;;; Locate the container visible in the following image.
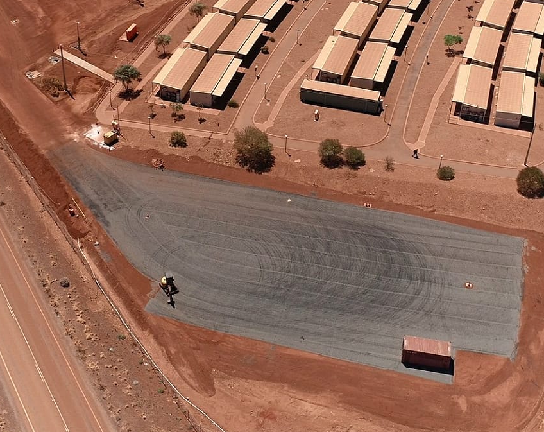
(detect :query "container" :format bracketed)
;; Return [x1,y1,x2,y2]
[402,336,451,369]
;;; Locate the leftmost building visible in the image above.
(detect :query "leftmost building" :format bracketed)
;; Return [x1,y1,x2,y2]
[153,50,210,103]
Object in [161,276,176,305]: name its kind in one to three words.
work vehicle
